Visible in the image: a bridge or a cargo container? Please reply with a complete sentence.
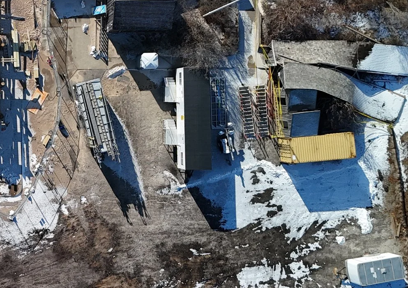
The one in the frame is a cargo container.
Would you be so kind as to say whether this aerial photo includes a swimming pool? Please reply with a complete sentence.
No, no swimming pool is visible in the scene.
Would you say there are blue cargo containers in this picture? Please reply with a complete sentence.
No, the photo shows no blue cargo container.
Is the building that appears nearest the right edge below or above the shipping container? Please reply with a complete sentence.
Looking at the photo, you'll find the building that appears nearest the right edge above the shipping container.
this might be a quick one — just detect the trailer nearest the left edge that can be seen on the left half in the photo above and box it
[72,73,123,167]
